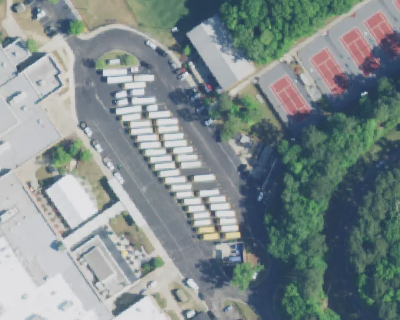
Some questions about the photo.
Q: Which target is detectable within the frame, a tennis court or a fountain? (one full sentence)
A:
Visible in the photo is a tennis court.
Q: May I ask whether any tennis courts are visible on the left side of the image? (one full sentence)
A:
No, no tennis court can be made out on the left side of the image.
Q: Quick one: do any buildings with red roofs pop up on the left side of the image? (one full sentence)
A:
No, looking on the left side of the image, there is no building with a red roof.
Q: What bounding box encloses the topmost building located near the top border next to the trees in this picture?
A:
[187,14,255,90]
